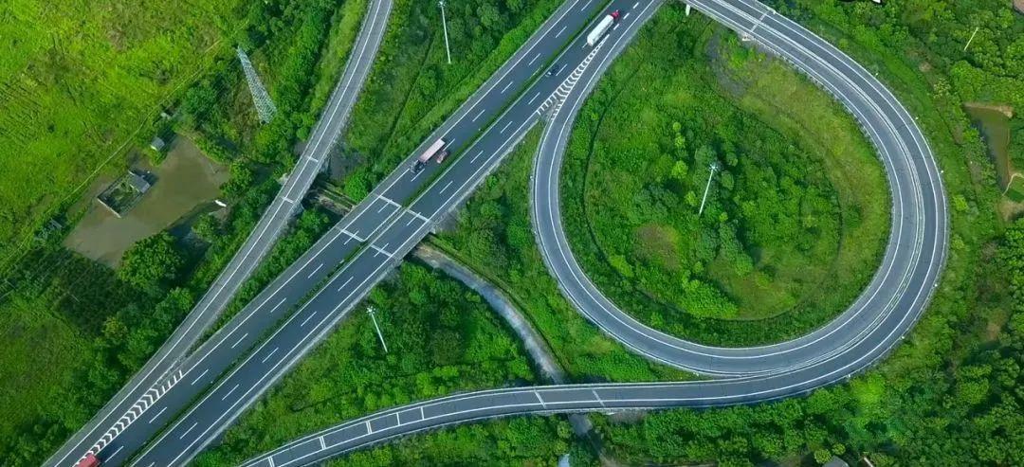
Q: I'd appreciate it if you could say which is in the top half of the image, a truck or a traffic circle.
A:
truck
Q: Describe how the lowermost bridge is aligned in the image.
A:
from side to side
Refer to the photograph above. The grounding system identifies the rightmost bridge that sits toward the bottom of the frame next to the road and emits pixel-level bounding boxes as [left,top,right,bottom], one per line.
[503,381,655,418]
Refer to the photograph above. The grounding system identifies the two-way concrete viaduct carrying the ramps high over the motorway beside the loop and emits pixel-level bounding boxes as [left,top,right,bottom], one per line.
[672,0,787,43]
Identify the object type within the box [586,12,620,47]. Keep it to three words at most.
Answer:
truck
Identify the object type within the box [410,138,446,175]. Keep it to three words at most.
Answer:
truck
